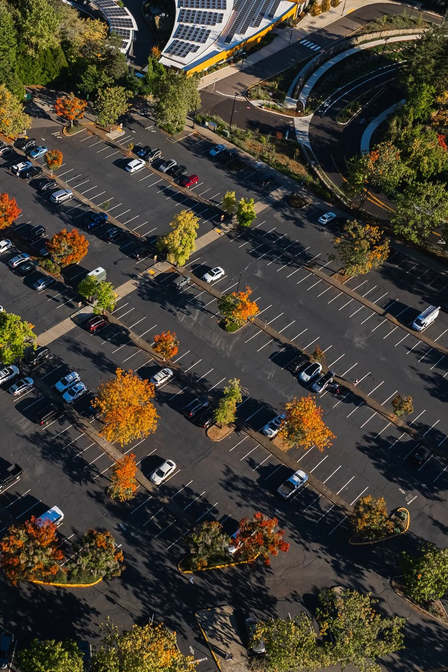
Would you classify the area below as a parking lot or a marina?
parking lot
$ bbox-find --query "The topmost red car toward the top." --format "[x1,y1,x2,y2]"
[181,175,201,189]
